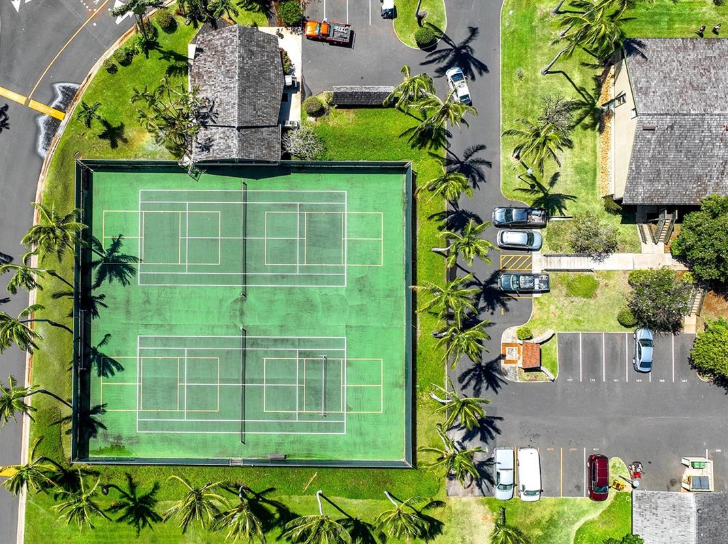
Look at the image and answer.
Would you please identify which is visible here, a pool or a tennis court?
tennis court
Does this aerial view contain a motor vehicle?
Yes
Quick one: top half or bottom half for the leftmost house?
top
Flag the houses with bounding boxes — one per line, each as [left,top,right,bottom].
[632,492,728,544]
[599,38,728,245]
[191,24,285,161]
